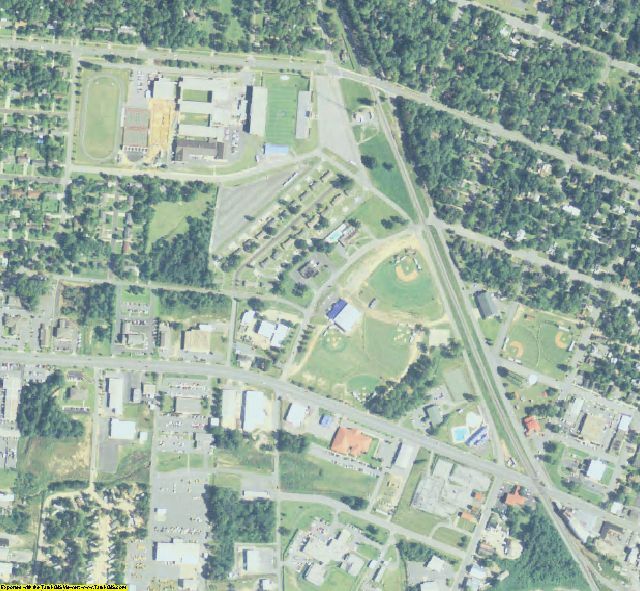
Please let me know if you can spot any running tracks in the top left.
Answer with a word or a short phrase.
Yes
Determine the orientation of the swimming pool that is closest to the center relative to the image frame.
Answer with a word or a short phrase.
diagonally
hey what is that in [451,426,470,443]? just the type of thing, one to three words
swimming pool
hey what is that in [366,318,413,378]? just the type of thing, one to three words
baseball field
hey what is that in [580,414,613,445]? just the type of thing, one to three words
building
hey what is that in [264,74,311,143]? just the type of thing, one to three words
sports field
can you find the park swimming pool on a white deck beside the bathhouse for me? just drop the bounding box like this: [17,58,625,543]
[325,224,347,244]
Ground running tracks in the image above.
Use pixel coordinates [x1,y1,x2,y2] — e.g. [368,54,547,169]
[79,74,126,162]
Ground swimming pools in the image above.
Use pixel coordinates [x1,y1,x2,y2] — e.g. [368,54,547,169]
[451,426,470,443]
[325,224,347,244]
